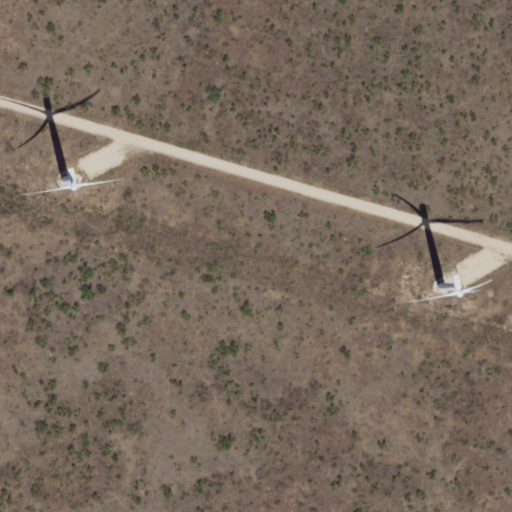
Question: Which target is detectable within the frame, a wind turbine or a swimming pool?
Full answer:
This aerial view contains a wind turbine.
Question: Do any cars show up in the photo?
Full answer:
No, no car is visible in the view.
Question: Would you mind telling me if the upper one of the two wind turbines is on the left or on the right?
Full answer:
You can find the upper one of the two wind turbines on the left side of the picture.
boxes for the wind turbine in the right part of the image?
[406,276,506,306]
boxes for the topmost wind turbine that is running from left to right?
[28,168,126,192]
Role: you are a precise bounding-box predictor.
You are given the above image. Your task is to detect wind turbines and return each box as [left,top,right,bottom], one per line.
[406,276,506,306]
[28,168,126,192]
